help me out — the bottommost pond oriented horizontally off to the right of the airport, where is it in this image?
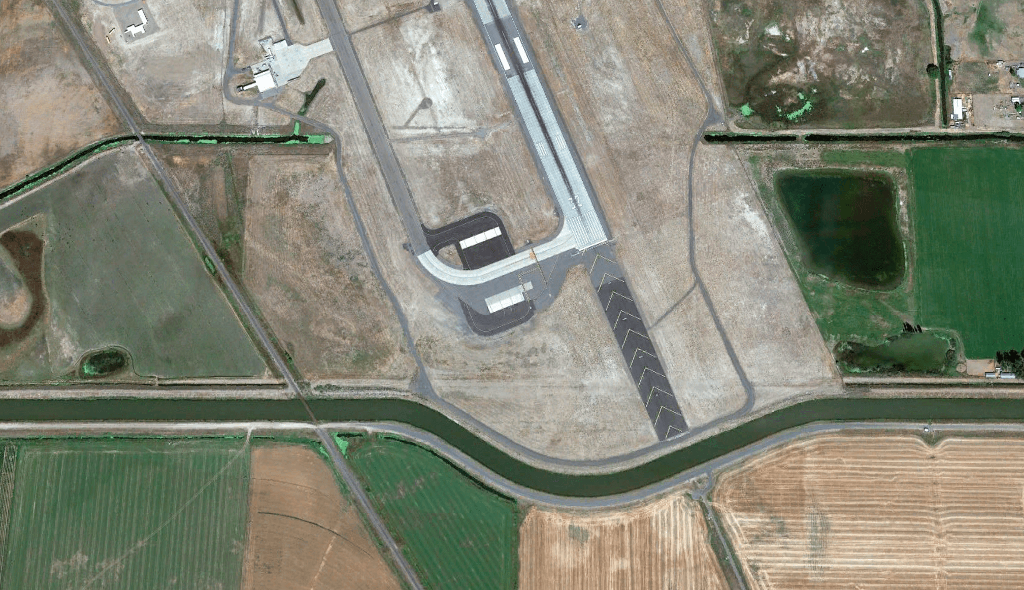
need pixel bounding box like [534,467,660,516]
[834,334,948,372]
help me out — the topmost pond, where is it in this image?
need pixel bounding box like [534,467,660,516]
[773,169,905,291]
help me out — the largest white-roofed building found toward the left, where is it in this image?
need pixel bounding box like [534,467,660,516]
[254,70,276,92]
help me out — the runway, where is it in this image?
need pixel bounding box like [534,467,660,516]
[474,0,607,250]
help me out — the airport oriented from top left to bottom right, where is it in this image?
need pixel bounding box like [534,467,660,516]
[251,0,688,443]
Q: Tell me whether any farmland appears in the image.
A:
Yes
